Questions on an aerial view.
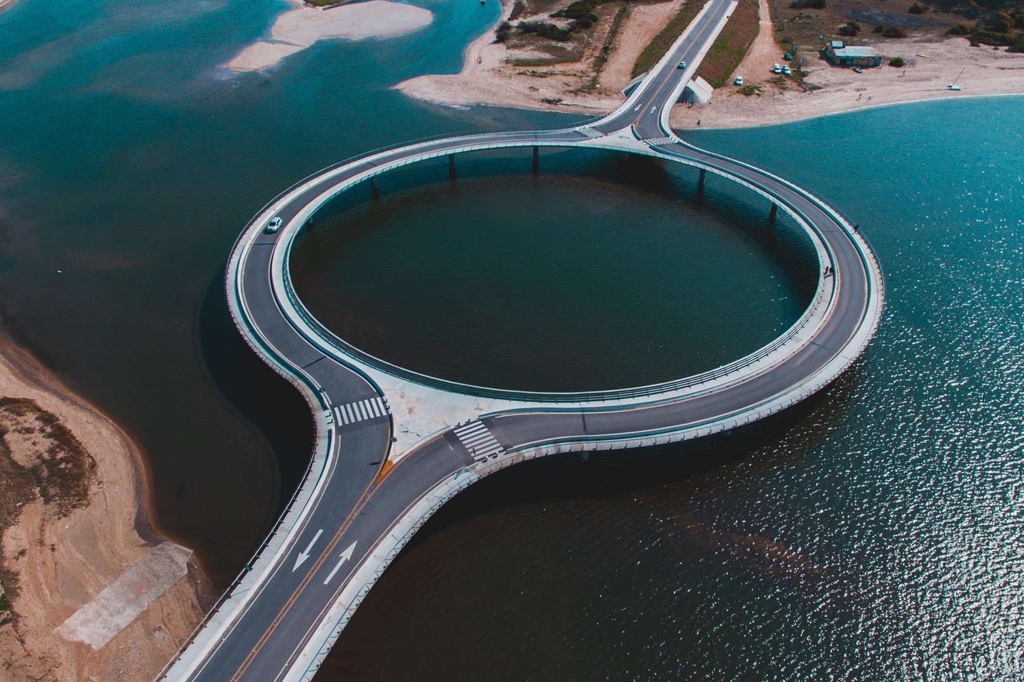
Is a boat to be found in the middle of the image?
No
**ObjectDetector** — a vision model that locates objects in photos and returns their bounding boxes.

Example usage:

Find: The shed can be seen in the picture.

[825,40,889,67]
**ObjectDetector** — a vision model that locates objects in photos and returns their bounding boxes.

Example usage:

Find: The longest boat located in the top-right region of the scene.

[940,56,975,90]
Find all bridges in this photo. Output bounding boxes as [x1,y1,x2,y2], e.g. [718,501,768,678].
[151,73,886,682]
